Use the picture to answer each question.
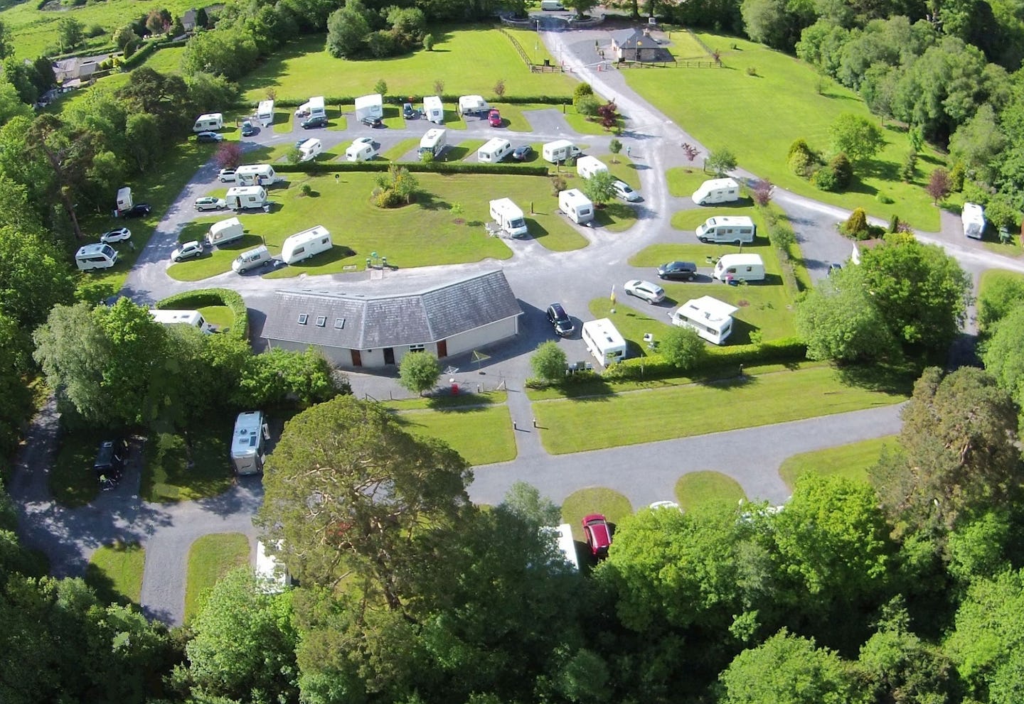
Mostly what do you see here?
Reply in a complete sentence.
For the most part, this view shows trees.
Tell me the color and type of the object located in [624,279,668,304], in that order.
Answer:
white car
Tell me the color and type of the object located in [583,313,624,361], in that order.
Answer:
white camper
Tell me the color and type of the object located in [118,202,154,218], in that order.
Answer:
black car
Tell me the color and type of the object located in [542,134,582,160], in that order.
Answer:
white camper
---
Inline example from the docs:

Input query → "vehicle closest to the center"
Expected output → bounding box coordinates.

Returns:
[549,302,573,335]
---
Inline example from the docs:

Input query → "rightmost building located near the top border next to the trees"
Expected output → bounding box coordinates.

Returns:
[613,21,660,61]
